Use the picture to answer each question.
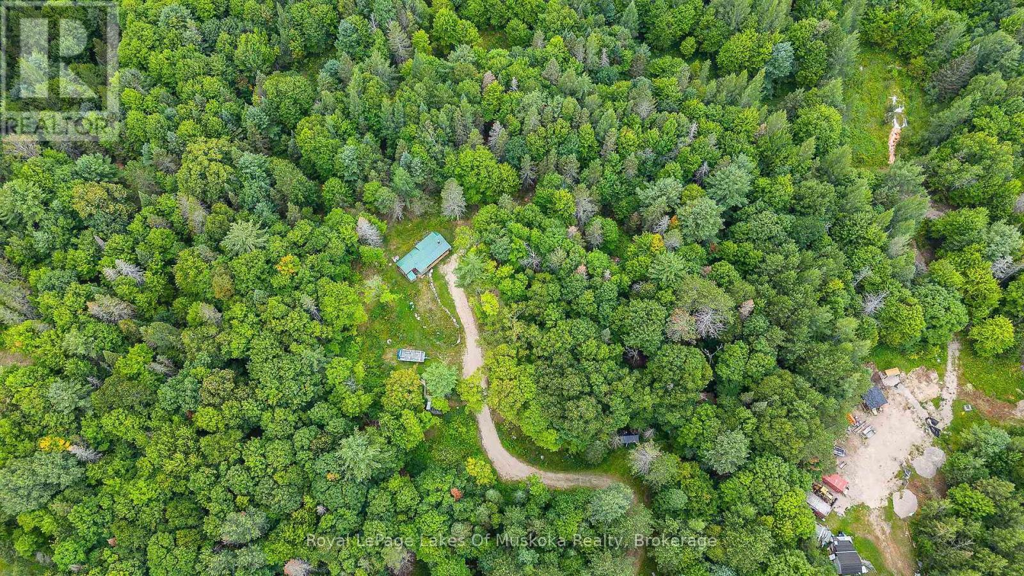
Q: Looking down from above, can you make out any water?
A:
No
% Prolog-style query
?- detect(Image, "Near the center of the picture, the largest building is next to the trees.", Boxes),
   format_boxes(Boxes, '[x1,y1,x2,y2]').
[396,231,454,283]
